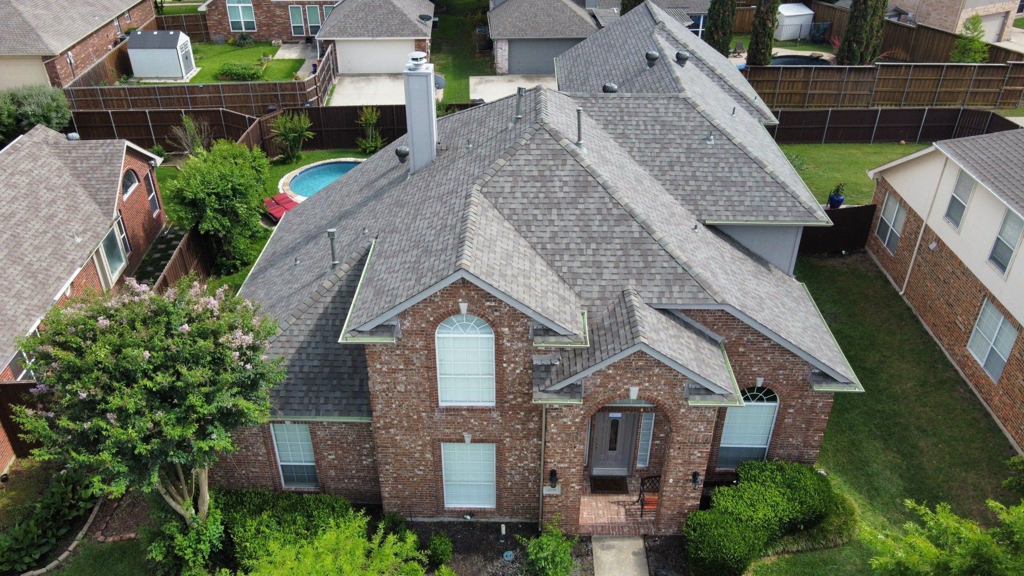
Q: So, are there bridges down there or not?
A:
No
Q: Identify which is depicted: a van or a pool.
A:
pool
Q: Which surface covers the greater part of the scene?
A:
buildings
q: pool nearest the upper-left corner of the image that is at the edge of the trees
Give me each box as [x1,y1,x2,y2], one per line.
[279,156,372,198]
